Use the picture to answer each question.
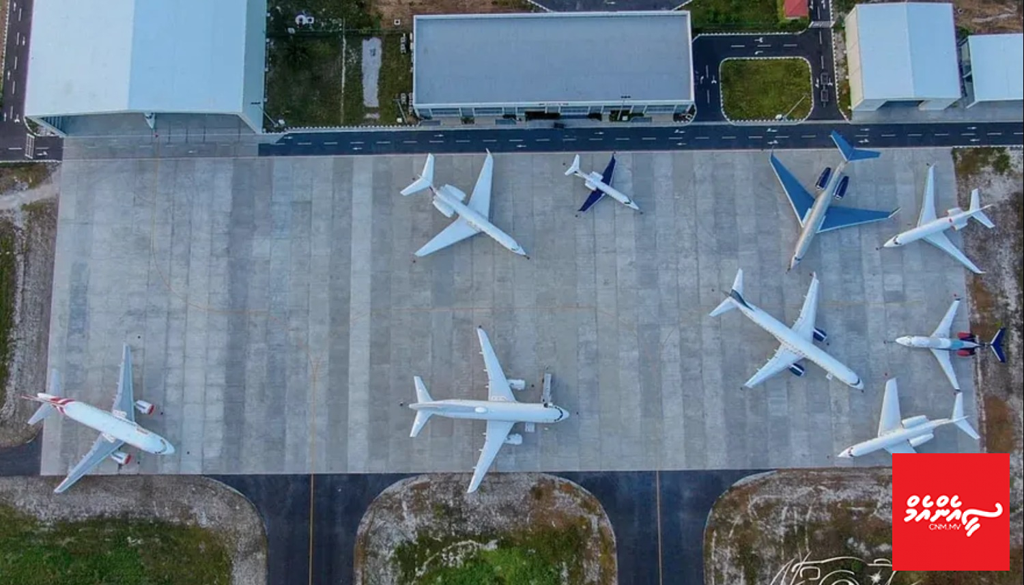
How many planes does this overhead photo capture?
nine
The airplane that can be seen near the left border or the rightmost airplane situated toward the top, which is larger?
the airplane that can be seen near the left border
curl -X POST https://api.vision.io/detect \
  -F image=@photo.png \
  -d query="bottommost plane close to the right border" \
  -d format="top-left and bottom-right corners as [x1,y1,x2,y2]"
[838,378,981,486]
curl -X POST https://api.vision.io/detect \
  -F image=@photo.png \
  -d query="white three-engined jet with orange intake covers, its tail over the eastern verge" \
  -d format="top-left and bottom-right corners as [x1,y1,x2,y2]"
[884,163,994,272]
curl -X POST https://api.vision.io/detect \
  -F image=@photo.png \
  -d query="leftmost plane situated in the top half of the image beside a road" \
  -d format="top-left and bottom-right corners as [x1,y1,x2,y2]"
[401,148,525,256]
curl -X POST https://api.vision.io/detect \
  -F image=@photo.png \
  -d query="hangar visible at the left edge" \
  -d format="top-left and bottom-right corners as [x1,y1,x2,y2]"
[27,0,267,136]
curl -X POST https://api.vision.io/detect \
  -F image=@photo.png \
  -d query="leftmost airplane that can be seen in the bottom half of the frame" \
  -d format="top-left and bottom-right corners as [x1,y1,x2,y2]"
[16,343,175,495]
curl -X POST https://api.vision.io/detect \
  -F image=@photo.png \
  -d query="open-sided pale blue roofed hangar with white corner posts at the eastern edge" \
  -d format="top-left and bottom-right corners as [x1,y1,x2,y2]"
[960,33,1024,109]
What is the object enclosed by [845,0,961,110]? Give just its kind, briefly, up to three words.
hangar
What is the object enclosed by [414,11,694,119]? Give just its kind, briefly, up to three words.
building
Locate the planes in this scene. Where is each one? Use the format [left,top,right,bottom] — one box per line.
[401,148,525,256]
[771,131,903,267]
[896,299,1006,390]
[710,270,863,388]
[838,378,981,486]
[16,343,175,495]
[884,163,994,272]
[408,329,569,492]
[565,155,638,211]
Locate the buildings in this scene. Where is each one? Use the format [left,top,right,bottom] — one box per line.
[782,0,808,21]
[414,11,694,119]
[960,33,1024,109]
[27,0,267,136]
[845,0,961,110]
